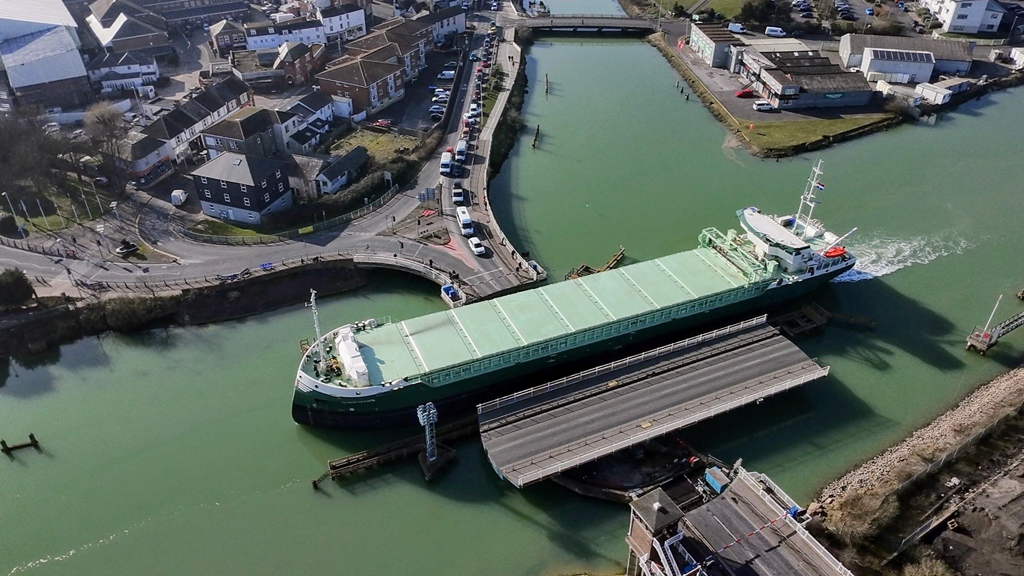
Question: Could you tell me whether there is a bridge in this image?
Yes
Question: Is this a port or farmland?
port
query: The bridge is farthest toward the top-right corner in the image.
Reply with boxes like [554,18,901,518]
[516,14,676,35]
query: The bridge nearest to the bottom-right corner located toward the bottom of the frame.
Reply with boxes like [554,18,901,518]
[476,315,831,492]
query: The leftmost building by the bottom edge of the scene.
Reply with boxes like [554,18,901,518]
[621,489,684,576]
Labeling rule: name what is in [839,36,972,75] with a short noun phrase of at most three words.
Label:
building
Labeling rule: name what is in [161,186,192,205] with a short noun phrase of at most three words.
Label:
vehicle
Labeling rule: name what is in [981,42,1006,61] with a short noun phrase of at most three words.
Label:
shed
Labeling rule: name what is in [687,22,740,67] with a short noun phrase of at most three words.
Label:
building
